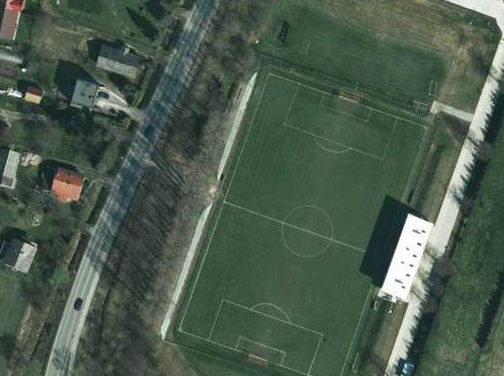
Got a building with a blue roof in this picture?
No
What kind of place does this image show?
sports ground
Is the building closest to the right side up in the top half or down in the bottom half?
bottom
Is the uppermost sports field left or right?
right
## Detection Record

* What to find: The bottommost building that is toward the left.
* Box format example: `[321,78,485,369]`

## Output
[0,235,38,275]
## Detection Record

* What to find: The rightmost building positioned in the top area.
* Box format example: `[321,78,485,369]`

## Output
[95,44,142,82]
